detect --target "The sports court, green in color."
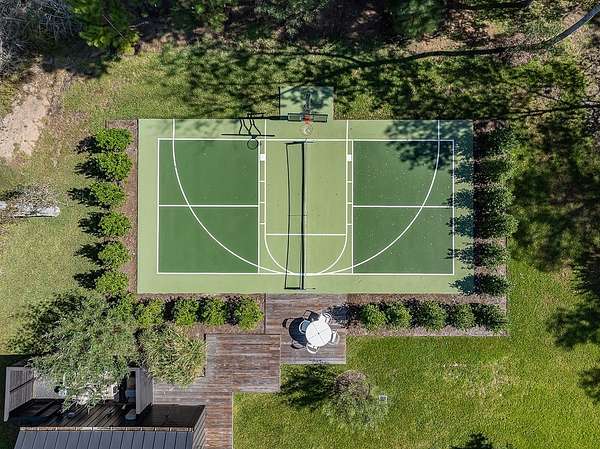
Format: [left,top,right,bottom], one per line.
[137,86,473,294]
